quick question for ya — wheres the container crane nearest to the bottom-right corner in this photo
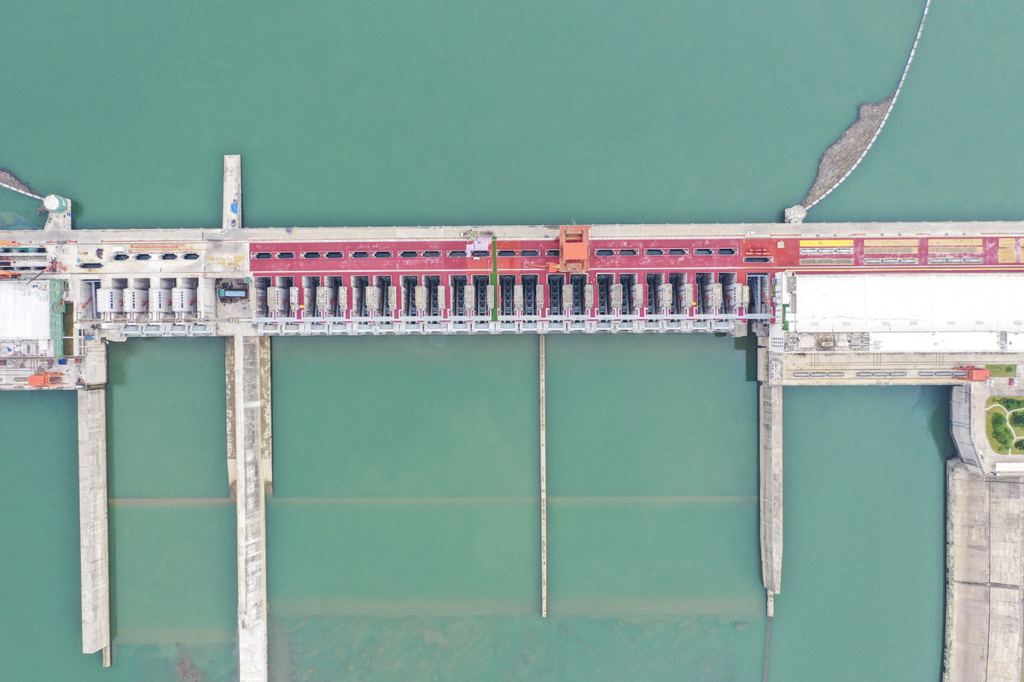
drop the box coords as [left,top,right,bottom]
[947,366,990,381]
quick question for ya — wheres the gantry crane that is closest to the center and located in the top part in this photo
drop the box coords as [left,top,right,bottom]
[524,225,591,273]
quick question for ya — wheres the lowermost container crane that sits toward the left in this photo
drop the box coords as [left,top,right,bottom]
[28,372,73,387]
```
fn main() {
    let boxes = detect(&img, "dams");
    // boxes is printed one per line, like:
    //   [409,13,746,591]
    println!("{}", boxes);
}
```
[0,222,1024,391]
